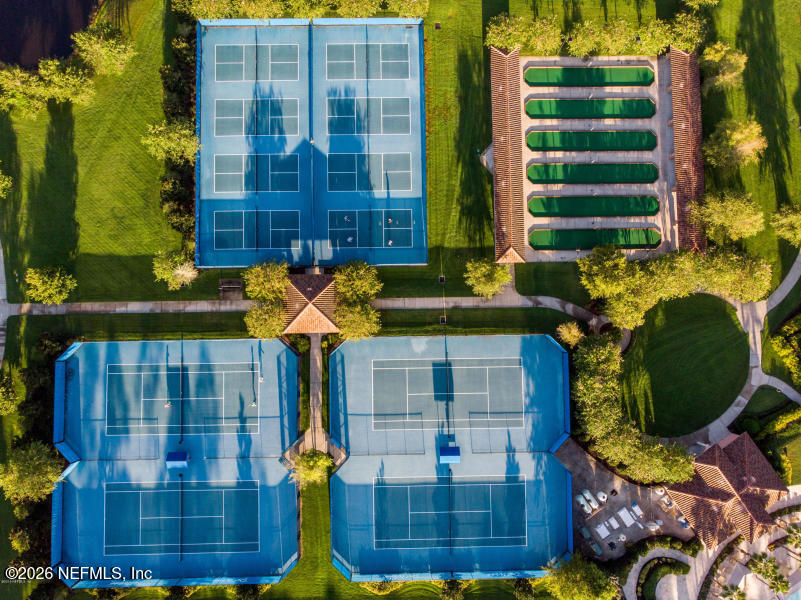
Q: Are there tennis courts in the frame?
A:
Yes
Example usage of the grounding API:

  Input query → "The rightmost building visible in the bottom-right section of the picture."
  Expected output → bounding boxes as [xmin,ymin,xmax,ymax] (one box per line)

[666,431,789,550]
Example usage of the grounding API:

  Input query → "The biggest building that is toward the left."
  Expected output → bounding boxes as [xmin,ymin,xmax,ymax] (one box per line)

[283,274,339,334]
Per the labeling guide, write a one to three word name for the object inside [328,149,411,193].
sports court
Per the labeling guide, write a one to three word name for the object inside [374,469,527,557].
tennis court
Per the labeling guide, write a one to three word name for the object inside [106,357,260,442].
tennis court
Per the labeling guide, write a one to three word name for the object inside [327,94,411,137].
sports court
